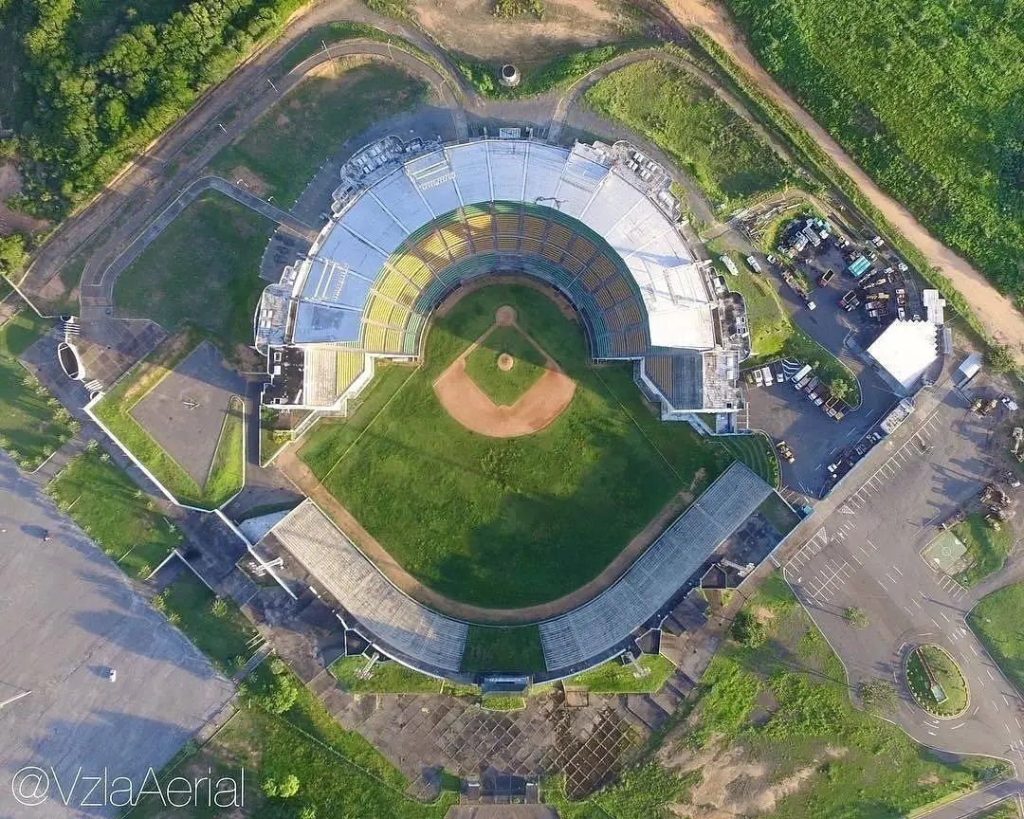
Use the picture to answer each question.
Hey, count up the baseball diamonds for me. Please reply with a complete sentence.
Just 1 baseball diamond appears in this view.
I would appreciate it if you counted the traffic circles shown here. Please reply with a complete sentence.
Altogether the scene contains 1 traffic circle.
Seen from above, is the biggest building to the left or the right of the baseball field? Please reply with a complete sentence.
To the right of the baseball field is where the biggest building appears.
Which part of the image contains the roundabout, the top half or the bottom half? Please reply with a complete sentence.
The roundabout sits in the bottom half of the picture.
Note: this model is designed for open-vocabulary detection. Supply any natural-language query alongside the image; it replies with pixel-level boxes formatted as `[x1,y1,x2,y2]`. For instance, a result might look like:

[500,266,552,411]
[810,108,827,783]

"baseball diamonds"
[275,276,736,623]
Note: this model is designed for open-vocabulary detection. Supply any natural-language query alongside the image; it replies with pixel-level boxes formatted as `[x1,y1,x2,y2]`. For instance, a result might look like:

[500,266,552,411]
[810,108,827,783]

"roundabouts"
[905,644,969,718]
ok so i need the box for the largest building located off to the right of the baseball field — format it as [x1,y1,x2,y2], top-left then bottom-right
[843,319,937,399]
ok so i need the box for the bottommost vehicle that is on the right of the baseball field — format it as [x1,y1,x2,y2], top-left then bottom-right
[989,513,1002,532]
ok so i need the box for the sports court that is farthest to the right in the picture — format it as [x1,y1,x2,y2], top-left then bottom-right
[924,527,975,575]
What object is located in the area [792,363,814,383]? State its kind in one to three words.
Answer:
bus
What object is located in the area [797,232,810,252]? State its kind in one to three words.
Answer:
vehicle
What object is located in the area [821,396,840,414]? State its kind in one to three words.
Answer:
vehicle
